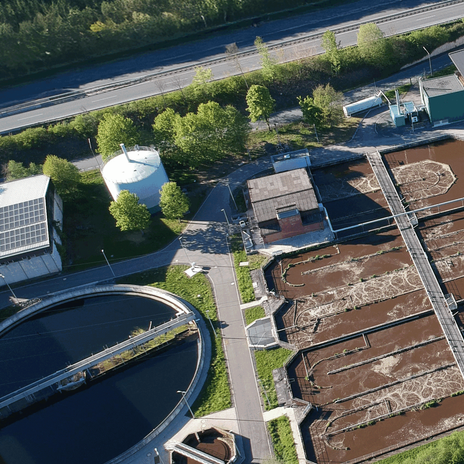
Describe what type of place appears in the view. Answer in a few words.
industrial area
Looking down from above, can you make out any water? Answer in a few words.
Yes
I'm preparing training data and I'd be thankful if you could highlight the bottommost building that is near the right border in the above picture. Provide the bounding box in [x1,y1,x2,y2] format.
[413,74,464,125]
